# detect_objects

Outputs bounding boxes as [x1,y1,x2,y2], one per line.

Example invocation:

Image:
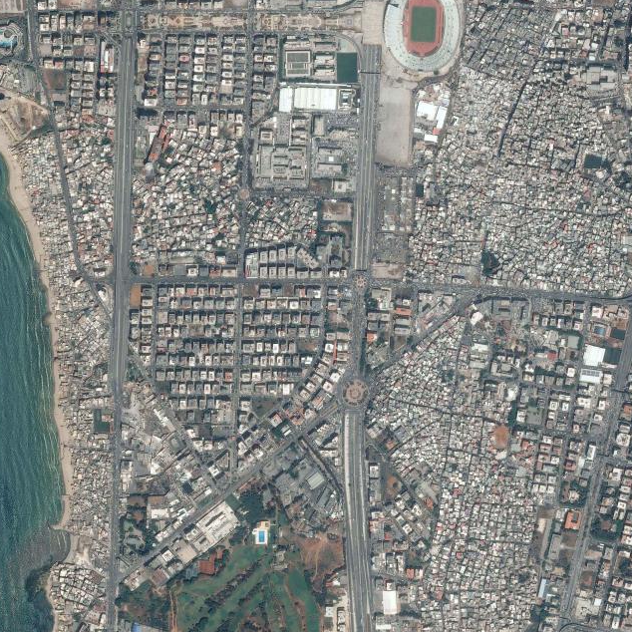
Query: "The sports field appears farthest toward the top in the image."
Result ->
[411,6,436,41]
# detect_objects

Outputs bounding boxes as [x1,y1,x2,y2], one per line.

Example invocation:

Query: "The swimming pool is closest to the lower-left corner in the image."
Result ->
[256,528,269,544]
